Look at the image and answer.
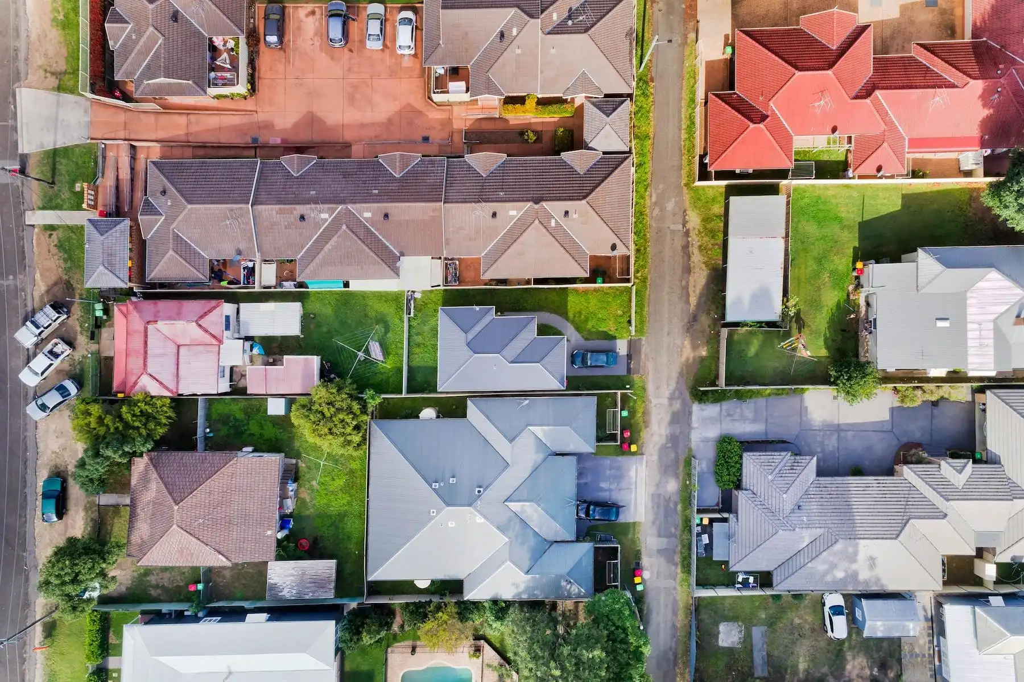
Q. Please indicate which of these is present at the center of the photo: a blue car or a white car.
blue car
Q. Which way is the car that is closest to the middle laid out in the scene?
from side to side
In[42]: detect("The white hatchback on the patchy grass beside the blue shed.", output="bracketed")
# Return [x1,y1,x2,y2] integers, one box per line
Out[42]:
[819,593,845,639]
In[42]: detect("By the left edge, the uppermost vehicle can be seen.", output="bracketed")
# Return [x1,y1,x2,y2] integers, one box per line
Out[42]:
[16,302,70,348]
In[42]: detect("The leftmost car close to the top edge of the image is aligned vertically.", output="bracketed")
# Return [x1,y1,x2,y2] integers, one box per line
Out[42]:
[263,5,285,51]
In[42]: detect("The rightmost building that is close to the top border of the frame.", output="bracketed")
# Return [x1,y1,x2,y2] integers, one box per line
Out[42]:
[707,0,1024,175]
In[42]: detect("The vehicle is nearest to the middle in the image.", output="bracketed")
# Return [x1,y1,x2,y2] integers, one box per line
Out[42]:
[570,348,618,370]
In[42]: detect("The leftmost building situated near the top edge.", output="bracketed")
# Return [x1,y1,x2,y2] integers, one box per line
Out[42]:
[104,0,249,100]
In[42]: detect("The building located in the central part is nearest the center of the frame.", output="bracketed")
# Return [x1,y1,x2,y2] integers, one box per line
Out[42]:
[437,305,568,392]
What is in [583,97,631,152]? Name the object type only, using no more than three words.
building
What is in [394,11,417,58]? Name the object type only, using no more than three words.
car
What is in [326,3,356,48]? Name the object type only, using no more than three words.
car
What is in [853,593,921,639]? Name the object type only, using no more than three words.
shed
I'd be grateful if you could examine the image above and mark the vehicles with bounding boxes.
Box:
[16,302,70,348]
[394,11,417,58]
[364,4,386,52]
[29,379,81,420]
[22,338,73,387]
[819,593,845,639]
[326,3,356,48]
[263,5,285,51]
[578,499,622,521]
[570,348,618,370]
[42,477,68,522]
